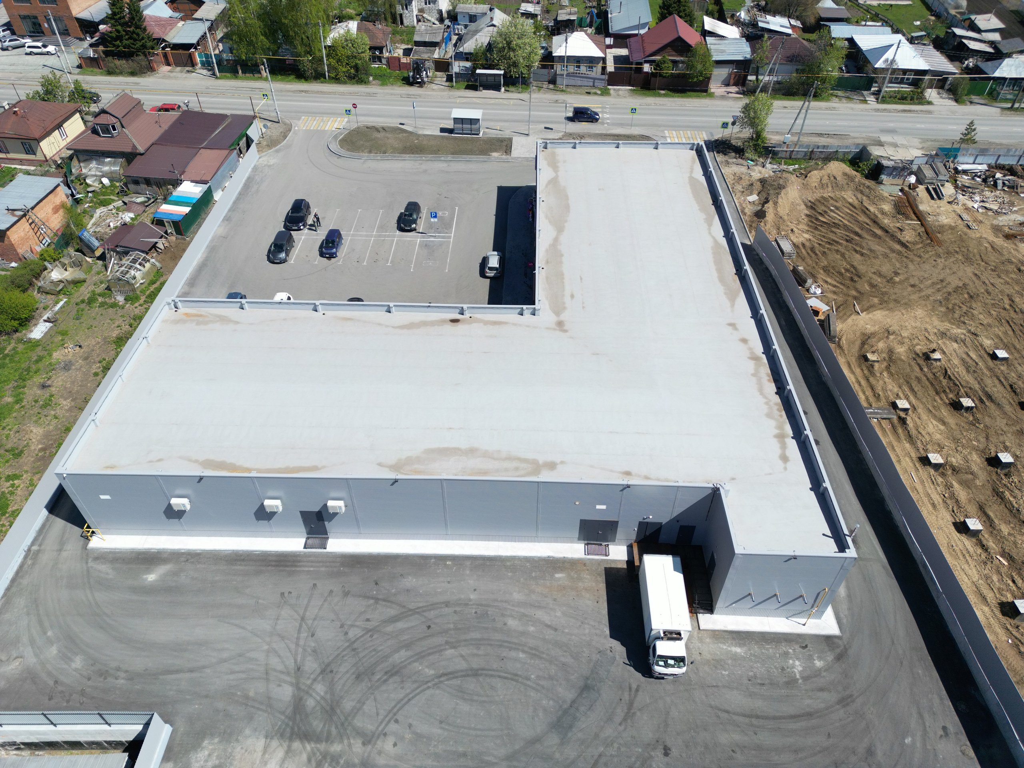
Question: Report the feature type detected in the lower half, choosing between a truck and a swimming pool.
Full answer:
What appears in the lower half is a truck.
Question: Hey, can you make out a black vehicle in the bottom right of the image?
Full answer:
No, in the bottom right of the image there is no black vehicle.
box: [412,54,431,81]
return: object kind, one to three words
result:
work vehicle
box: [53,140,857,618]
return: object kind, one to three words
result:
building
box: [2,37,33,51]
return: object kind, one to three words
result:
car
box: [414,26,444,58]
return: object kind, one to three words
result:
shed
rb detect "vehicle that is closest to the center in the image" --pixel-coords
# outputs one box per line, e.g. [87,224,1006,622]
[484,247,505,274]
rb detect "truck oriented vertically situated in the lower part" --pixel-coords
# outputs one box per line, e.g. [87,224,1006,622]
[639,556,696,681]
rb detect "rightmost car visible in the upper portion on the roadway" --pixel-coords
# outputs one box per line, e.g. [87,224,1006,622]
[571,104,601,121]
